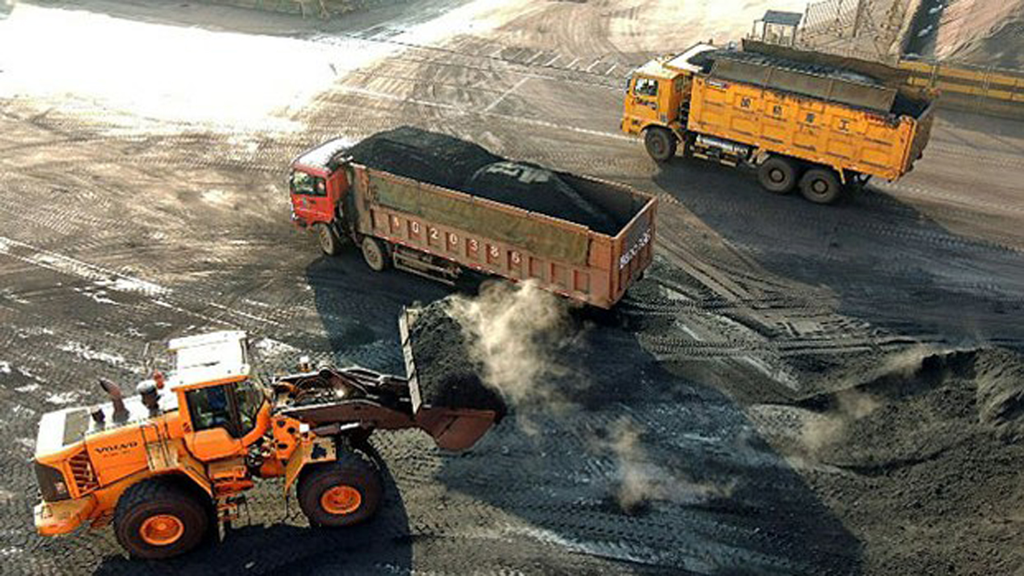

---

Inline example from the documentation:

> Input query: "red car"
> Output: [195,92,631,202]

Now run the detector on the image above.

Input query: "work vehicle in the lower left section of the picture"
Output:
[31,310,497,560]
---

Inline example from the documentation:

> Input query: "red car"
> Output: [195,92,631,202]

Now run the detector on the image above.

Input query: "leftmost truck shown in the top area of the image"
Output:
[281,127,660,332]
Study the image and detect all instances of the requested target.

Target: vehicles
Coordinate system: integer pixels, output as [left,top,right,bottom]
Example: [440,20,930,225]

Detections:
[281,127,660,332]
[620,35,943,203]
[31,310,497,560]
